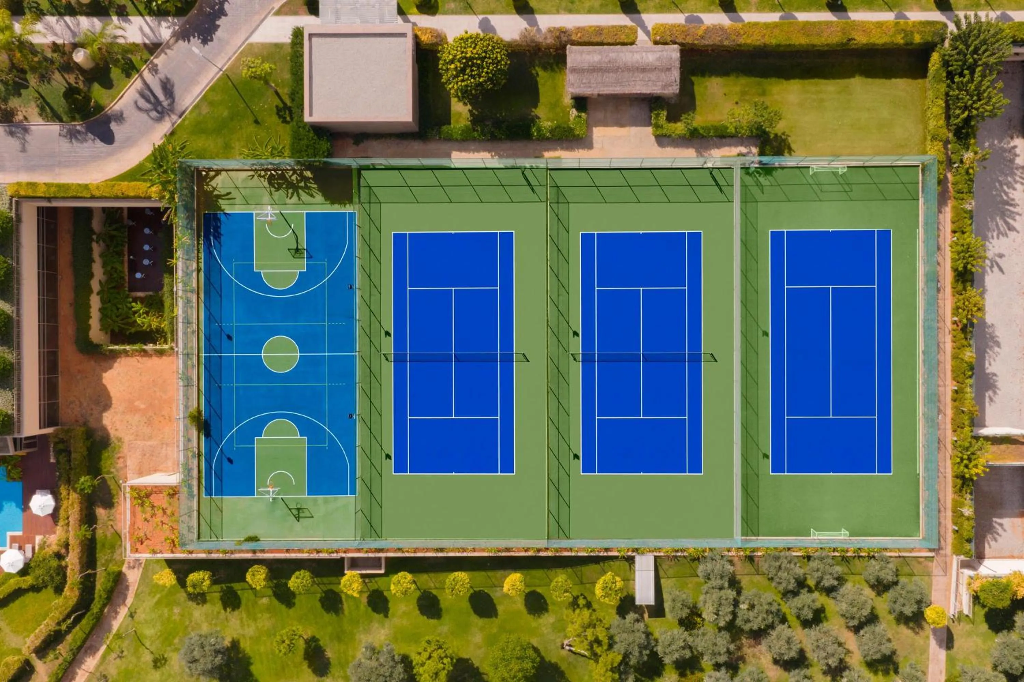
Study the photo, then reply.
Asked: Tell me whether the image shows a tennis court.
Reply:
Yes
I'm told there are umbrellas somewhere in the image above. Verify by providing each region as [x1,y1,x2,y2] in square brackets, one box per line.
[29,491,58,516]
[0,549,25,573]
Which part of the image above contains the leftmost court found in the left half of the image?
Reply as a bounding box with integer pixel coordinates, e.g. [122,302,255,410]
[198,166,357,540]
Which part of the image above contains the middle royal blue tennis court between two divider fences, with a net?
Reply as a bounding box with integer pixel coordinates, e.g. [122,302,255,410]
[549,166,733,540]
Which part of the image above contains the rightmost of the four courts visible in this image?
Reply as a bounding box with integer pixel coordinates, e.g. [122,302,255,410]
[742,166,920,538]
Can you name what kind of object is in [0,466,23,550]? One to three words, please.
swimming pool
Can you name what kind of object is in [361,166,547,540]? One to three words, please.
tennis court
